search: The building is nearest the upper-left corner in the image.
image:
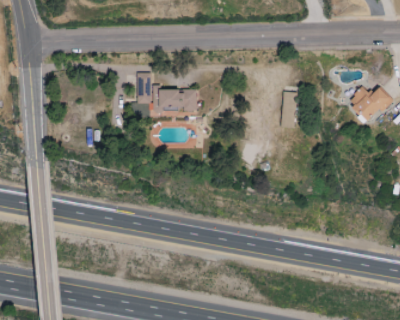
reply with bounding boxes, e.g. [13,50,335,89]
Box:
[138,72,152,102]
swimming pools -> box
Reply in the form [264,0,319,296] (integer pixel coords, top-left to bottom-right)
[328,64,370,108]
[147,114,198,148]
